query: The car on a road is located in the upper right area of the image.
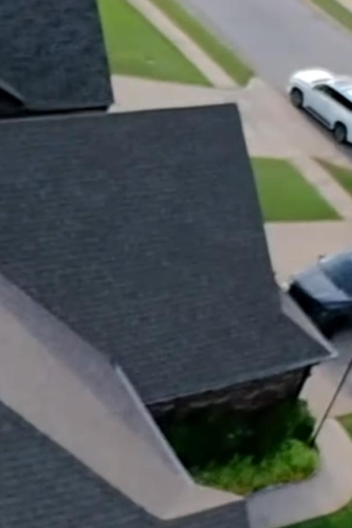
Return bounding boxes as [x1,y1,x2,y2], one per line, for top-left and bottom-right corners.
[290,77,352,146]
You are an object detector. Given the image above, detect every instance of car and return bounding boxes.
[293,255,352,324]
[290,77,352,146]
